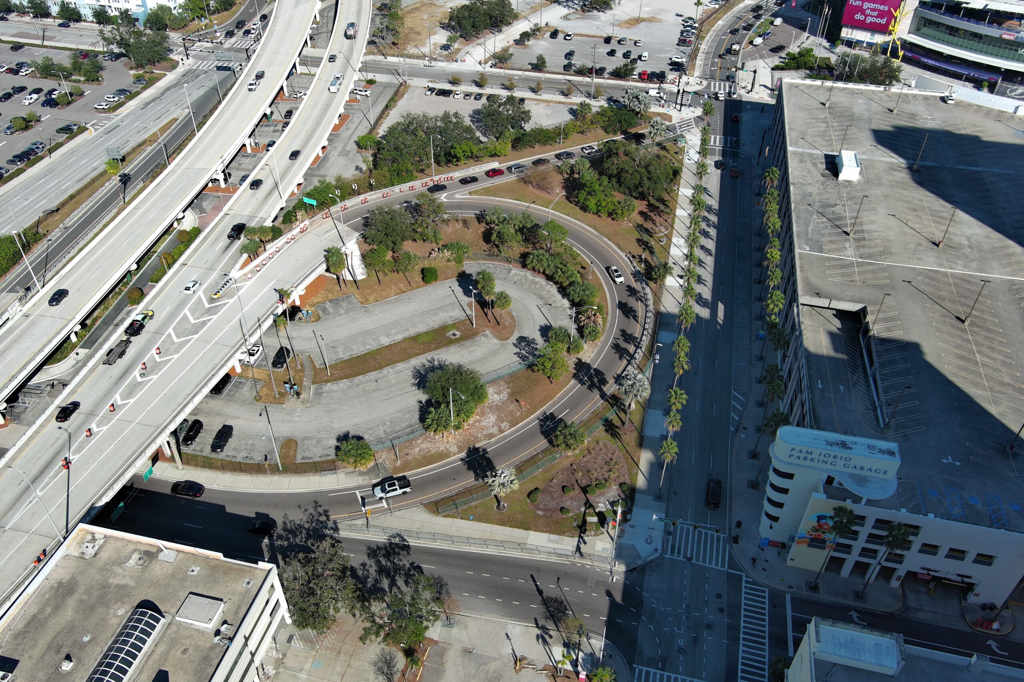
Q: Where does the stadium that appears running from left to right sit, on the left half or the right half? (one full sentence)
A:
The stadium that appears running from left to right is on the right side of the image.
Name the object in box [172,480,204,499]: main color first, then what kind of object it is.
black car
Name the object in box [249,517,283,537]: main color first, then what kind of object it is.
black car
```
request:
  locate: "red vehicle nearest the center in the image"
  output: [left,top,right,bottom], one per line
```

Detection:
[485,166,505,179]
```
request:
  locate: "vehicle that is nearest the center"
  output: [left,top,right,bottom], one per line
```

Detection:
[610,266,624,283]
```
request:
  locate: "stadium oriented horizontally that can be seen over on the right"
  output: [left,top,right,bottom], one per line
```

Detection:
[822,0,1024,103]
